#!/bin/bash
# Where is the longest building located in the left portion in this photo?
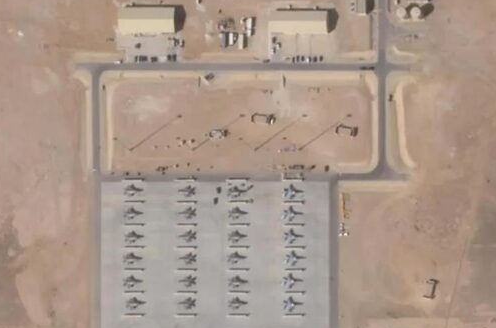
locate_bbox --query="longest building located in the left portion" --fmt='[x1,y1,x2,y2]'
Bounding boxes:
[117,6,177,34]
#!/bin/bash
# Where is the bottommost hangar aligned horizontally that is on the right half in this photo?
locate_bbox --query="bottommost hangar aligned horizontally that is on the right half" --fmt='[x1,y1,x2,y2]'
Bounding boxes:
[267,11,329,34]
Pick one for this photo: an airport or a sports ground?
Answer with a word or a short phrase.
airport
